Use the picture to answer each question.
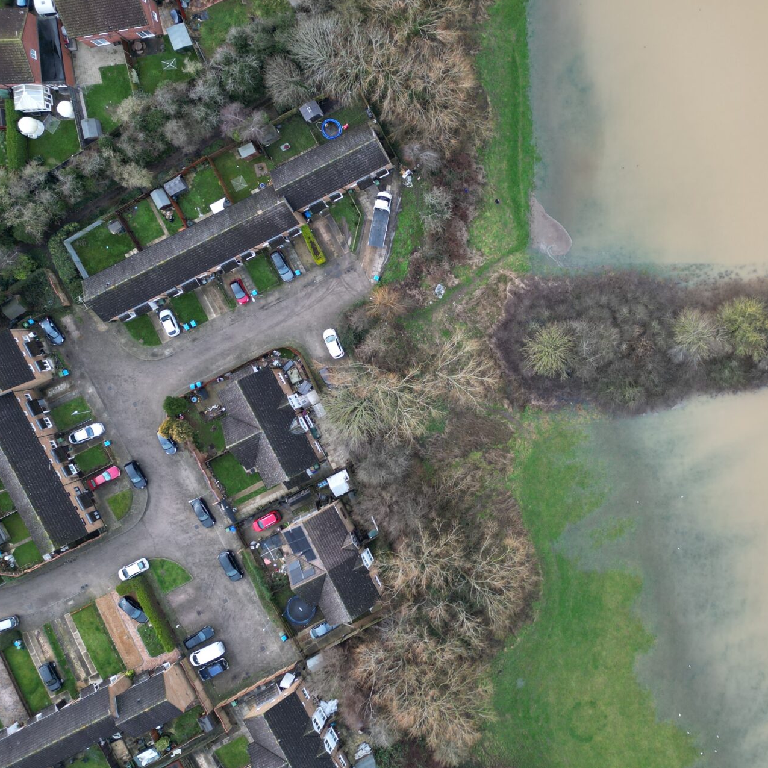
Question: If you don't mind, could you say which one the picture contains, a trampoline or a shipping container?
trampoline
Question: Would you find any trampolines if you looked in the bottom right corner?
No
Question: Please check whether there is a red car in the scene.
Yes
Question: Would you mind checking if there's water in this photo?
Yes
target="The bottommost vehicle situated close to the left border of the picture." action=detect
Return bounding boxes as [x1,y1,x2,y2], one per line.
[38,662,65,692]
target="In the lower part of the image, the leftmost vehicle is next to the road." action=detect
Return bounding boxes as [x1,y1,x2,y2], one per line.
[0,613,22,633]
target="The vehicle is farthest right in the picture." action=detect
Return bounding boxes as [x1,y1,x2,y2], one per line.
[368,192,392,248]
